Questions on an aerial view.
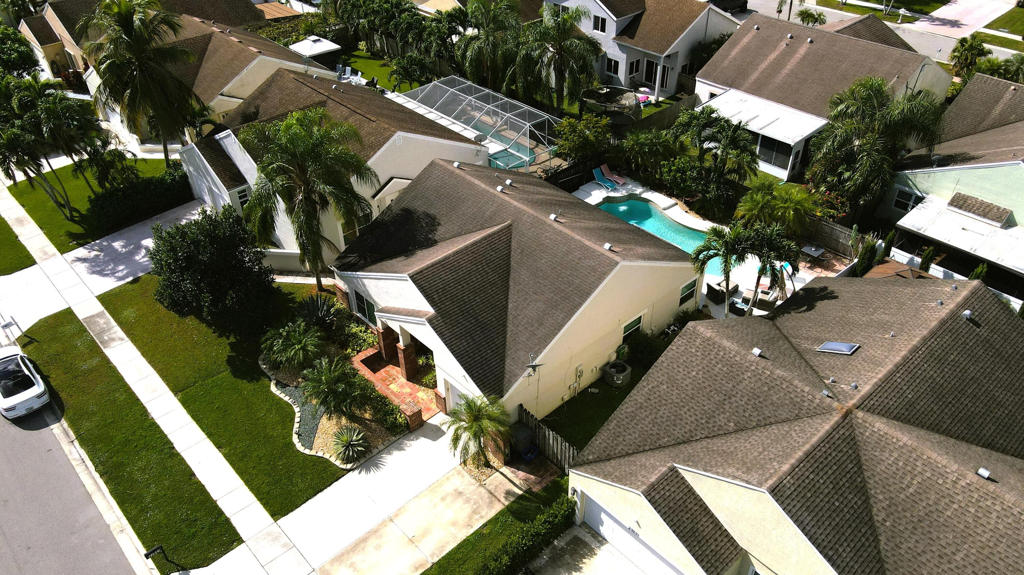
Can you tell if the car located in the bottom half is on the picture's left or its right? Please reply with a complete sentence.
The car located in the bottom half sits on the left side.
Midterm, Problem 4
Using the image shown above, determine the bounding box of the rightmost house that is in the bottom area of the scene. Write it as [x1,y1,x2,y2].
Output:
[570,277,1024,575]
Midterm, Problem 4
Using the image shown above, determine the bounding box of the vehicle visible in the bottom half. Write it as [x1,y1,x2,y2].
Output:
[0,343,49,423]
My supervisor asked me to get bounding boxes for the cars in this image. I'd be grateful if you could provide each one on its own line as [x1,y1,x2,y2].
[700,0,758,15]
[0,343,49,423]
